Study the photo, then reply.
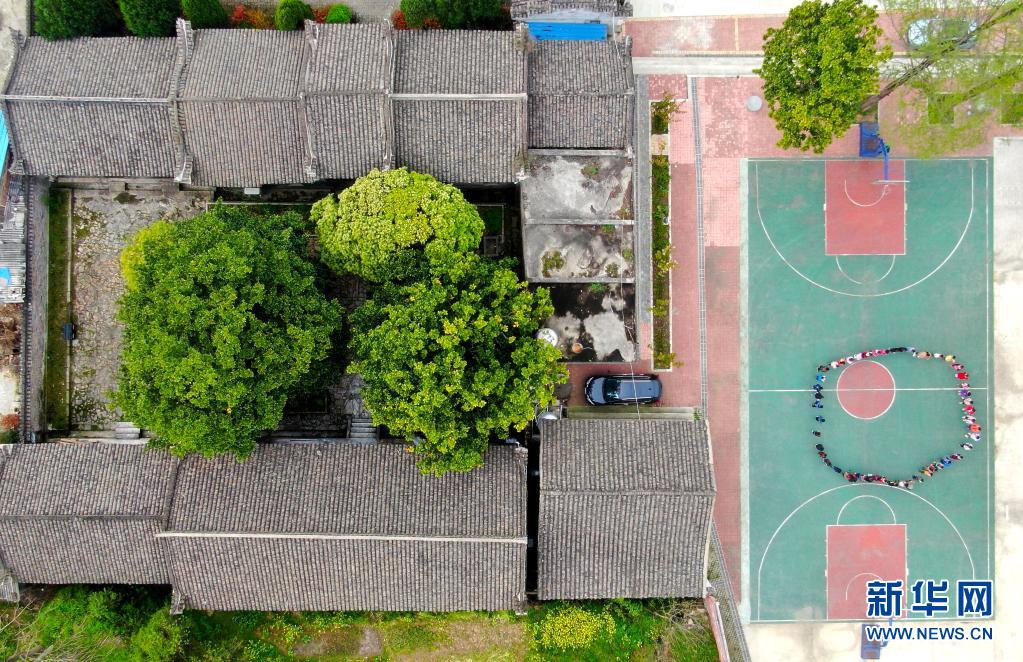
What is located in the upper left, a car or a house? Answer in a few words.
house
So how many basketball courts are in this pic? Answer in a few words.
one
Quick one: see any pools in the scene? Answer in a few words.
No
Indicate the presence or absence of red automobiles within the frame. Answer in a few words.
No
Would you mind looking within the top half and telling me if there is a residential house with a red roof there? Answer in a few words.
No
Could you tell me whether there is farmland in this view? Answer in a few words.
No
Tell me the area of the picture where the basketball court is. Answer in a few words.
right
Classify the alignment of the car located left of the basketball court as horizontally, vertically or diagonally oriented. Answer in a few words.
horizontally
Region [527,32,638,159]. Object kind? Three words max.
house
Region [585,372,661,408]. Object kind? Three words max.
car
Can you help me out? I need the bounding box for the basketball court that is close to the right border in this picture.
[739,158,993,622]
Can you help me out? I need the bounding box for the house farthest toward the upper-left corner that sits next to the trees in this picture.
[0,27,182,188]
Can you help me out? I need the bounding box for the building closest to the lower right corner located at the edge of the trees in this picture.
[537,417,719,601]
